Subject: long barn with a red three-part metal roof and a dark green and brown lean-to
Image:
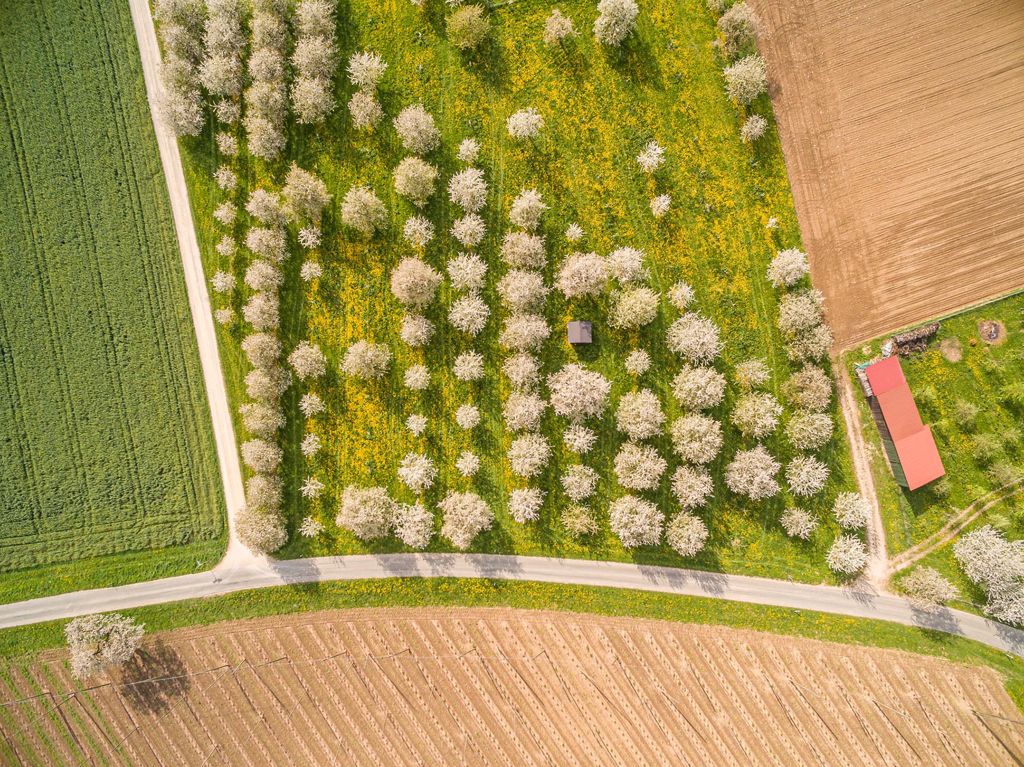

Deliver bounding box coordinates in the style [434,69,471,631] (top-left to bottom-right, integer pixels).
[855,355,945,491]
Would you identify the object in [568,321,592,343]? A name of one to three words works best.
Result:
shed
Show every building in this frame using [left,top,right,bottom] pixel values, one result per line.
[568,321,592,343]
[855,355,945,491]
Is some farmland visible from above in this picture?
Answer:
Yes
